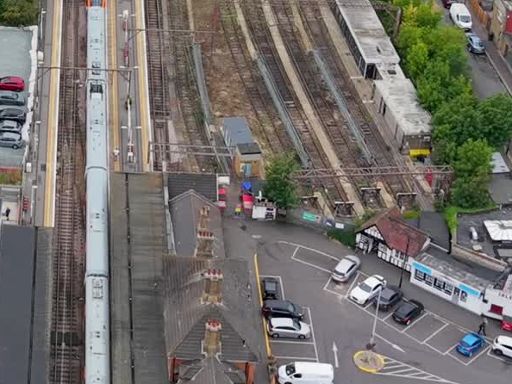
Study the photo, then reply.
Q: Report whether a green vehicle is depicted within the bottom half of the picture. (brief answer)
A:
No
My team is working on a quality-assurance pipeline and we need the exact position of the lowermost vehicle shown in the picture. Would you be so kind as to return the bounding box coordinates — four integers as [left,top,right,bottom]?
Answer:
[279,360,335,384]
